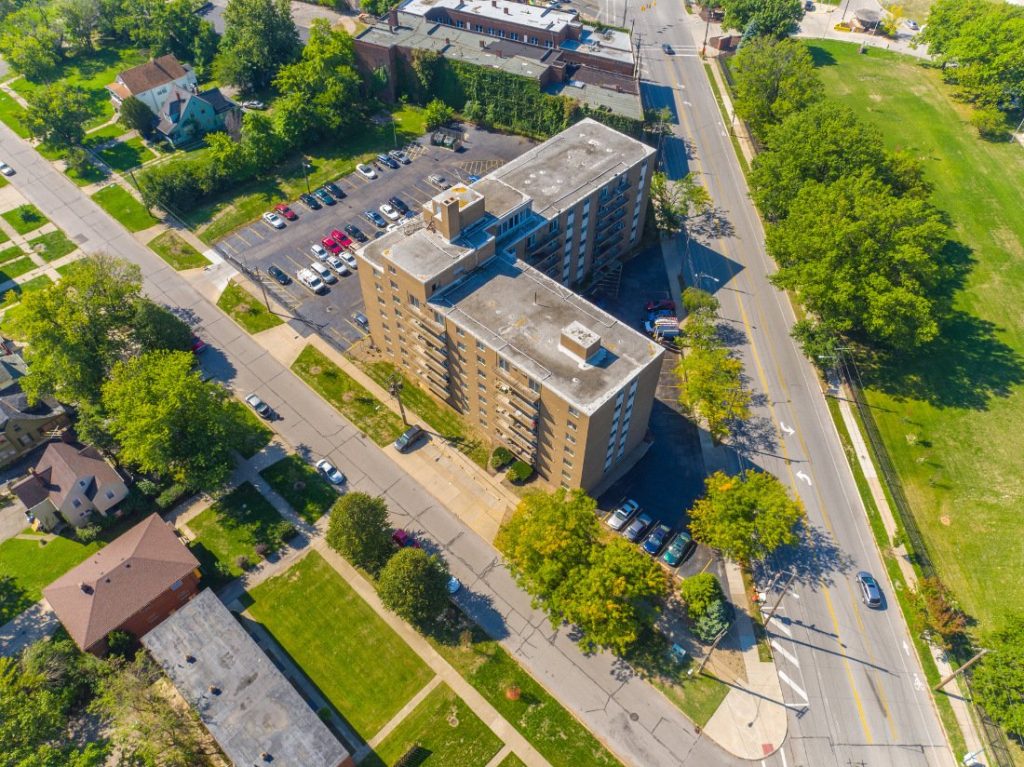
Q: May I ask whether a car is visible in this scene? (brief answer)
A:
Yes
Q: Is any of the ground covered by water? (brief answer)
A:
No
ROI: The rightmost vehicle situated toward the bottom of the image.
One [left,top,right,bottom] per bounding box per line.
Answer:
[854,572,884,609]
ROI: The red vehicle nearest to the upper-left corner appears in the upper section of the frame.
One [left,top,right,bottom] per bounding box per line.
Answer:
[276,204,296,220]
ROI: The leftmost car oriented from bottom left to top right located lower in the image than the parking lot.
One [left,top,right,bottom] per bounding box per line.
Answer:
[394,423,425,450]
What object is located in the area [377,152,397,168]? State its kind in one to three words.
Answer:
car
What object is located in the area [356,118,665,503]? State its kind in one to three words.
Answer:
building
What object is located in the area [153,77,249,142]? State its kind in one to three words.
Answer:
house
